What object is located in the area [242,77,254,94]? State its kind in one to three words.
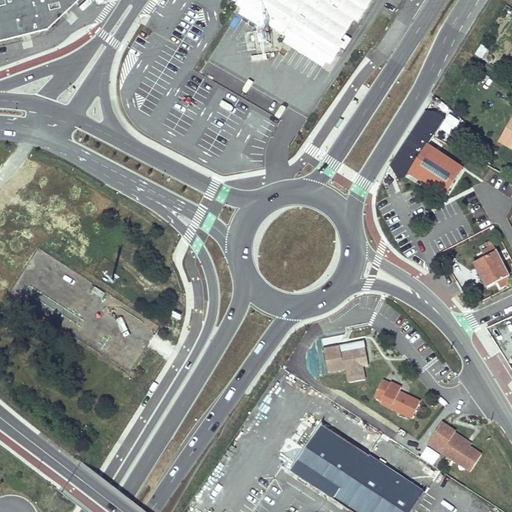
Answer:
vehicle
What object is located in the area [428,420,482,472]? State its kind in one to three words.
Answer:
house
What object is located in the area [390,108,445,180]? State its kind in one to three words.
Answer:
building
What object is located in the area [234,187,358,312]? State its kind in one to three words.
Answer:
roundabout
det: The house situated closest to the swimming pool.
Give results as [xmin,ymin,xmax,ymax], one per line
[324,340,369,383]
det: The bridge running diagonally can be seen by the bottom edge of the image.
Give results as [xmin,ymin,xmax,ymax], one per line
[0,399,147,512]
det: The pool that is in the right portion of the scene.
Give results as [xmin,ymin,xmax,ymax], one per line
[307,340,326,380]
